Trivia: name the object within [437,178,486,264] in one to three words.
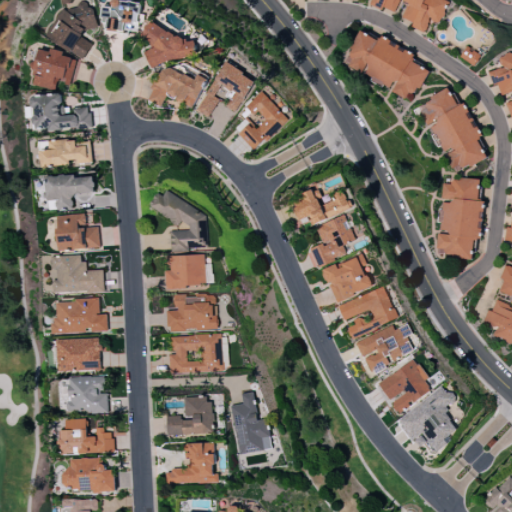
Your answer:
building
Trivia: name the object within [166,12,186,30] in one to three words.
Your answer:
swimming pool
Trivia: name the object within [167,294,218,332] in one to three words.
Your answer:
house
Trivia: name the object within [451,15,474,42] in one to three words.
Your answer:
swimming pool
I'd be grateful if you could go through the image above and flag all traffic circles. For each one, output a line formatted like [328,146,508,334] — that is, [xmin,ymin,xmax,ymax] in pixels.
[94,62,136,104]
